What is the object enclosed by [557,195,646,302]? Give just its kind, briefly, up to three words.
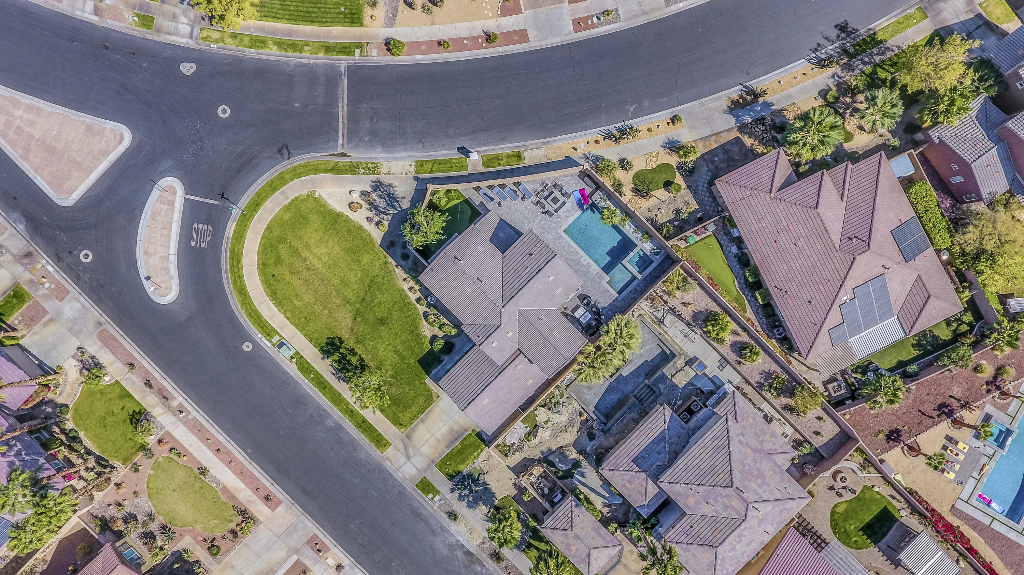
swimming pool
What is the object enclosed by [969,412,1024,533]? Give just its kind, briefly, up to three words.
swimming pool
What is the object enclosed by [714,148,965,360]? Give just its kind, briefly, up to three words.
house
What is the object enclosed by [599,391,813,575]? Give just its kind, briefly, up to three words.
house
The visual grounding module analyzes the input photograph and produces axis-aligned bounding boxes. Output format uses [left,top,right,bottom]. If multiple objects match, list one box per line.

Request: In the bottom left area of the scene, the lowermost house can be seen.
[78,535,157,575]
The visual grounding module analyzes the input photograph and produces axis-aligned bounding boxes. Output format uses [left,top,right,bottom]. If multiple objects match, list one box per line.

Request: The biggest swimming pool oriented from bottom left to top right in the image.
[590,348,682,431]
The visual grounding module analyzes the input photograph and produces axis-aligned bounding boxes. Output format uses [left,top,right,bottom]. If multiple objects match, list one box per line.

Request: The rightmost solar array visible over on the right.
[892,216,933,263]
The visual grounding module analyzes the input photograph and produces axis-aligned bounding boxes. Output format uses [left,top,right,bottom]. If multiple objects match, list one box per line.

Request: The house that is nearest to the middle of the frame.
[419,210,589,436]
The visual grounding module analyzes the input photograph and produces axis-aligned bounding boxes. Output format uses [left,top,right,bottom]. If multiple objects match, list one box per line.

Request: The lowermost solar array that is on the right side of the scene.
[829,274,895,347]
